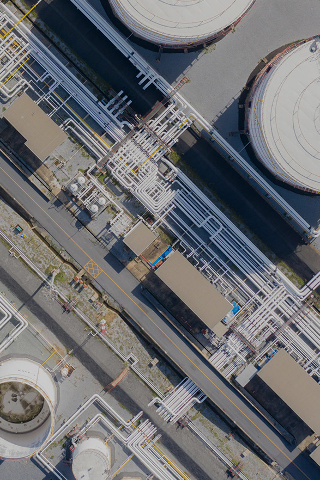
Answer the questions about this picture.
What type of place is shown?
industrial area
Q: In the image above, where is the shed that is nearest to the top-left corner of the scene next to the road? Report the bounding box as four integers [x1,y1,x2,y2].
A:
[0,93,68,169]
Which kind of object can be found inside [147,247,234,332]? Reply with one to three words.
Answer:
shed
